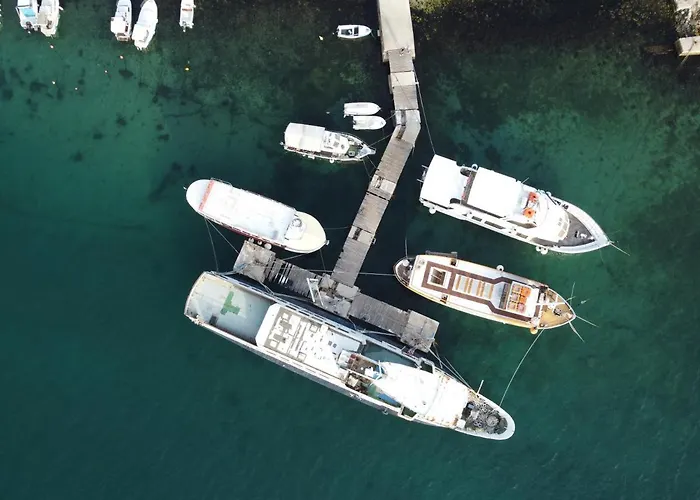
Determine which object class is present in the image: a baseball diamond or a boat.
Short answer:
boat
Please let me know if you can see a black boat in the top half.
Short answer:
No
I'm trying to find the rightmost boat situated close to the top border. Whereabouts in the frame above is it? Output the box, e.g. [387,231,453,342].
[336,25,373,39]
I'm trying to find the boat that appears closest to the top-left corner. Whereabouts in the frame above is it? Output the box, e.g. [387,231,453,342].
[16,0,40,33]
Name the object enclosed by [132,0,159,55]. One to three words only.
boat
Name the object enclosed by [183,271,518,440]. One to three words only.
ship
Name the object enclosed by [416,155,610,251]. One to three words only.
boat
